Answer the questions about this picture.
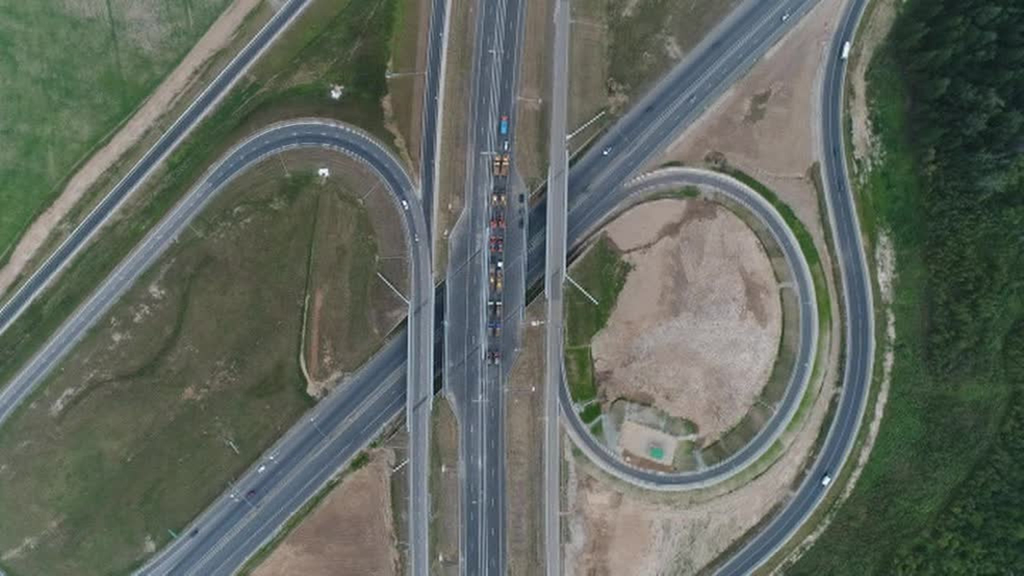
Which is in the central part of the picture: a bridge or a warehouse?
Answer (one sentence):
The one visible in the central part of the picture is a bridge.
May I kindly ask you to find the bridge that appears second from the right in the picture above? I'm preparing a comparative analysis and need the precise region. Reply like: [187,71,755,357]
[444,195,526,399]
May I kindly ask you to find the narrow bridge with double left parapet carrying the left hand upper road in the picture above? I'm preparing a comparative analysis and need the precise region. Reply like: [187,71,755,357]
[407,277,435,433]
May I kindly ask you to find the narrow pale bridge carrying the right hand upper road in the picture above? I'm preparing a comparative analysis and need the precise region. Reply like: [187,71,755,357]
[544,149,569,299]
